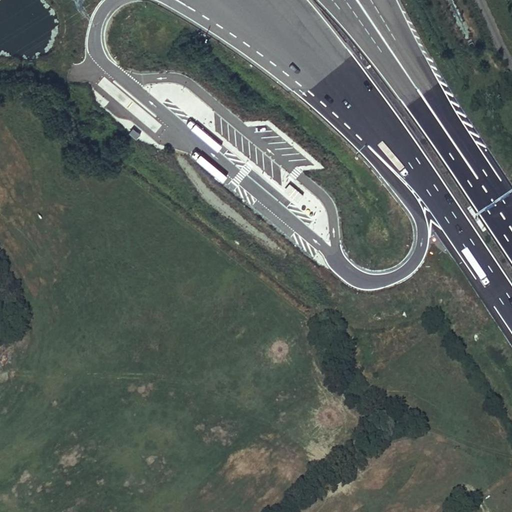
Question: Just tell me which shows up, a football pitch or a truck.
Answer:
truck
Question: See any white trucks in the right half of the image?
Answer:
Yes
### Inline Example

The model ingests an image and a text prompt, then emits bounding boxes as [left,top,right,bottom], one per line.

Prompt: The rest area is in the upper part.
[68,44,352,271]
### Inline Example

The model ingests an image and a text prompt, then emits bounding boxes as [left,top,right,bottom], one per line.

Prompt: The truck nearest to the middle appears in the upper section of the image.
[191,151,227,183]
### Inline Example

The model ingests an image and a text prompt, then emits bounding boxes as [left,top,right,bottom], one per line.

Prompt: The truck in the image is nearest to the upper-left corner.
[186,120,222,152]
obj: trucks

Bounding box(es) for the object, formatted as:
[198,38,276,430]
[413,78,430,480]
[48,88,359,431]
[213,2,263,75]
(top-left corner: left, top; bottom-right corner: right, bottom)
[462,247,491,286]
[186,120,222,152]
[378,141,410,176]
[191,151,227,183]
